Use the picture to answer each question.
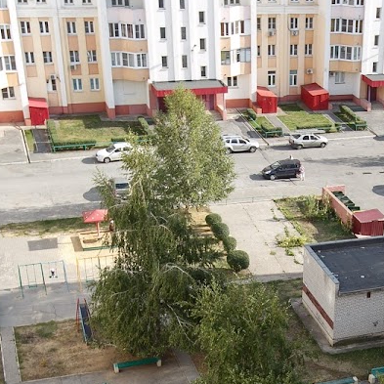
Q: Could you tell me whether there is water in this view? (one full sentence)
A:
No, no water is visible.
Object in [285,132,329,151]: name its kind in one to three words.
car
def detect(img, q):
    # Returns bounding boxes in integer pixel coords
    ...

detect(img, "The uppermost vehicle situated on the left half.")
[91,143,135,164]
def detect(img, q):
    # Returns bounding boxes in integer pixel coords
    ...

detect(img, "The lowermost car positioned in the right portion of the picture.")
[260,159,305,182]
